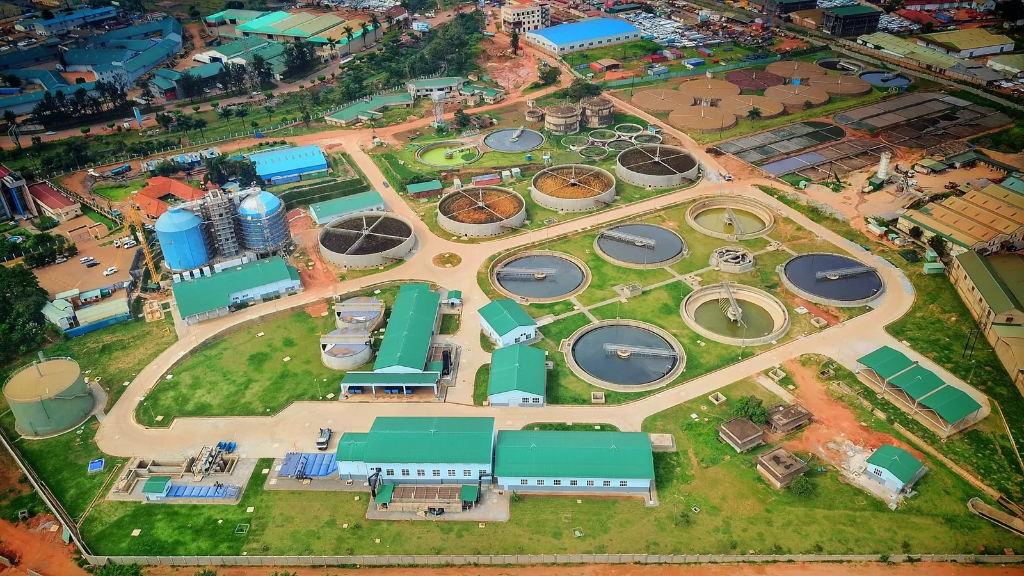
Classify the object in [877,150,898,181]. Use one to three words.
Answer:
silo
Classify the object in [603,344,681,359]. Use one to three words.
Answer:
bridge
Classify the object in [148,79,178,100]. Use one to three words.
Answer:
building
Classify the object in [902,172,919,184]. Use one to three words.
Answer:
vehicle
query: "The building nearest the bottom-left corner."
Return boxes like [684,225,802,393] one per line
[141,475,174,502]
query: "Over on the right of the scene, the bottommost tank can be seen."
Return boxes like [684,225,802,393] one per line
[555,320,684,393]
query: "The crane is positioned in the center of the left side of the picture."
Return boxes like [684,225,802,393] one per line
[114,185,164,285]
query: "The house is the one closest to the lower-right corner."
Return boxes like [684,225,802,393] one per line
[867,444,924,493]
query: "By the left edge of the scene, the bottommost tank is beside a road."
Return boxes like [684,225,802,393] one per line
[0,348,92,431]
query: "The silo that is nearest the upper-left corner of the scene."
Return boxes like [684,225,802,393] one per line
[151,206,214,277]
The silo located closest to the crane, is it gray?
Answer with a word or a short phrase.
No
